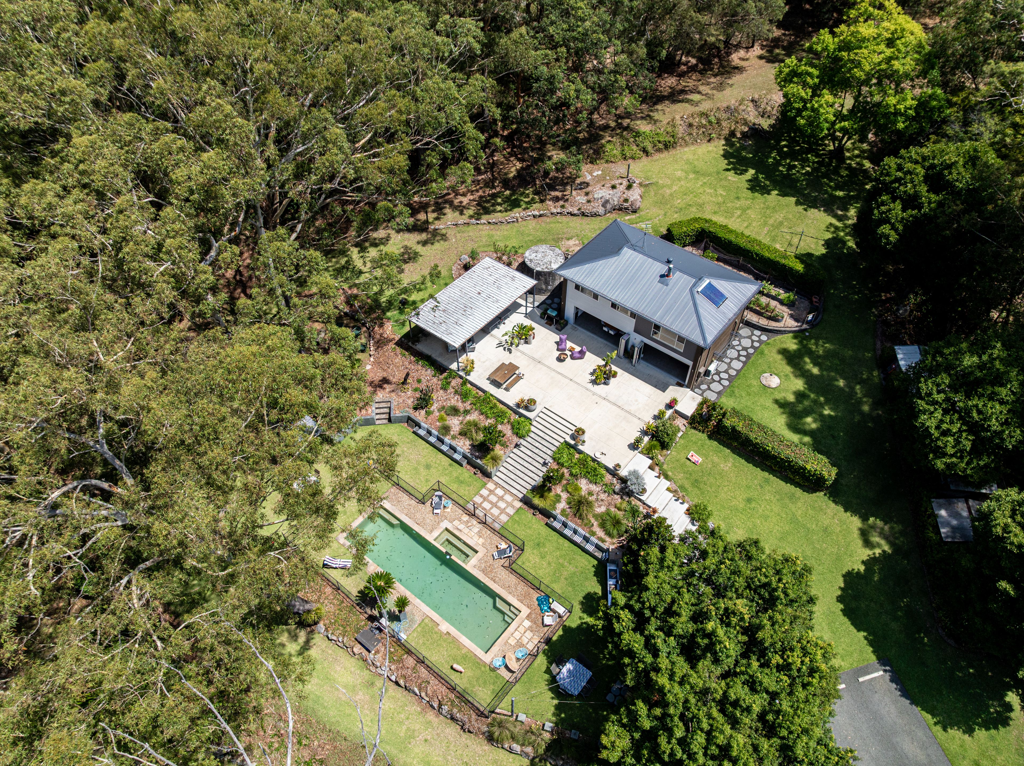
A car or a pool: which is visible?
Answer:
pool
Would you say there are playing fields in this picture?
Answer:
No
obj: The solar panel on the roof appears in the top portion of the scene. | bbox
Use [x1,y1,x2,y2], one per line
[693,276,729,308]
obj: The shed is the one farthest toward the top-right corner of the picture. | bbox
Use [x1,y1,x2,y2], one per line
[886,345,931,388]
